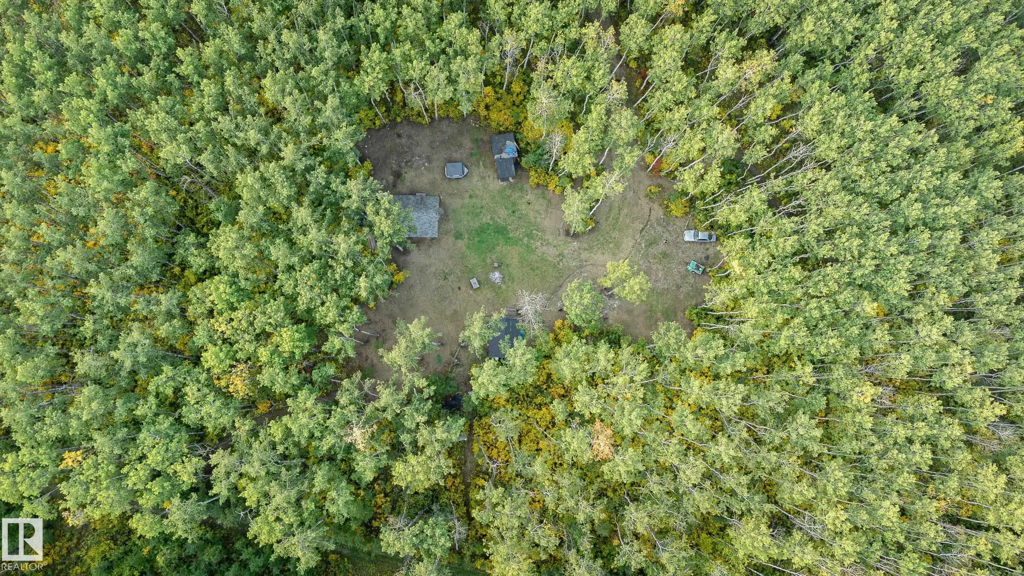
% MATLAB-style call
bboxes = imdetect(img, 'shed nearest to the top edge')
[492,133,517,184]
